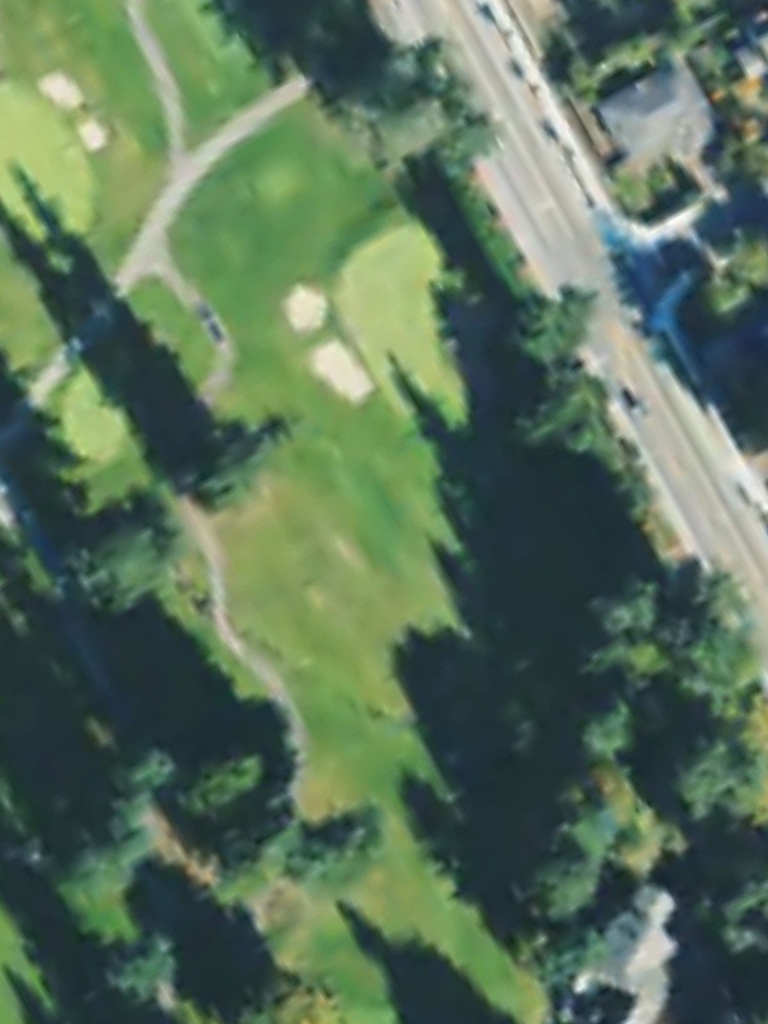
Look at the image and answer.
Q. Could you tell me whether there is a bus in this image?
No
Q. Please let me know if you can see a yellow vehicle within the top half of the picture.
No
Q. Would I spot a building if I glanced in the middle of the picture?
No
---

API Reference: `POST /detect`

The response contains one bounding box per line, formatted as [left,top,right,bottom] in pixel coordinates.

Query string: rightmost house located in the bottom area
[604,914,677,991]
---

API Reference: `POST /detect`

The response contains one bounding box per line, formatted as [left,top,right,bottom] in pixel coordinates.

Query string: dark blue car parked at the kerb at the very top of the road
[482,3,498,23]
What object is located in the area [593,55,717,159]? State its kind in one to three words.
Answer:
house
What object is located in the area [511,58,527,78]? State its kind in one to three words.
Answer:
car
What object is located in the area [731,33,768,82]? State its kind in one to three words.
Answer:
house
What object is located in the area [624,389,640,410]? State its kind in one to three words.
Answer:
car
